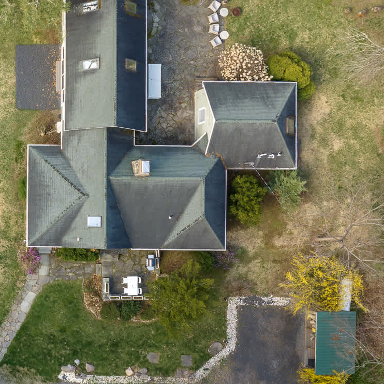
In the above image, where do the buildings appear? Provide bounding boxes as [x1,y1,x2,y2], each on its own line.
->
[304,309,357,375]
[23,0,298,257]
